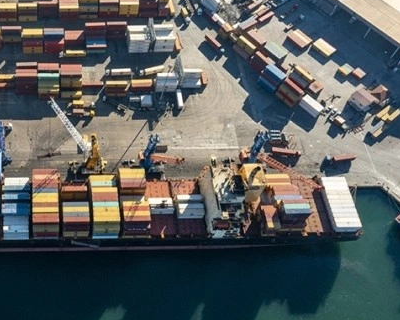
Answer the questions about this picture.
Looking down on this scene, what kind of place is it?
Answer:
port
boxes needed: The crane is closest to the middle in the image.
[128,141,187,177]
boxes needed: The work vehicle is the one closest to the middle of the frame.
[160,97,178,116]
